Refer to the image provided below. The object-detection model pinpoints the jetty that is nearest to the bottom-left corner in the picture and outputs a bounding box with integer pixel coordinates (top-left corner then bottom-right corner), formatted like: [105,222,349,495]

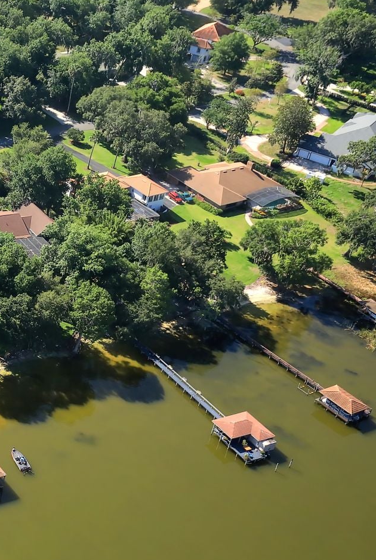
[138,342,229,419]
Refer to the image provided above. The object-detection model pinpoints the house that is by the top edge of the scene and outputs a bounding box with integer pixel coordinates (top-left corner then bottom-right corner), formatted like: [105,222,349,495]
[190,23,238,64]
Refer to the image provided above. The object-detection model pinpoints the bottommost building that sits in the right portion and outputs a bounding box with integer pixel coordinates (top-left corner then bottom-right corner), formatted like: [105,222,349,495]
[210,410,278,465]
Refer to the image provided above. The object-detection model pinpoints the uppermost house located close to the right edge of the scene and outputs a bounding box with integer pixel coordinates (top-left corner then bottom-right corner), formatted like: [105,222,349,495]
[297,113,376,172]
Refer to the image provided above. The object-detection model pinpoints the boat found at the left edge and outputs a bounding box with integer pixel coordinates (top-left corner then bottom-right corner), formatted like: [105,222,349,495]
[10,439,35,472]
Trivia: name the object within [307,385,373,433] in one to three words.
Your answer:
building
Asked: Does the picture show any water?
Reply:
Yes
